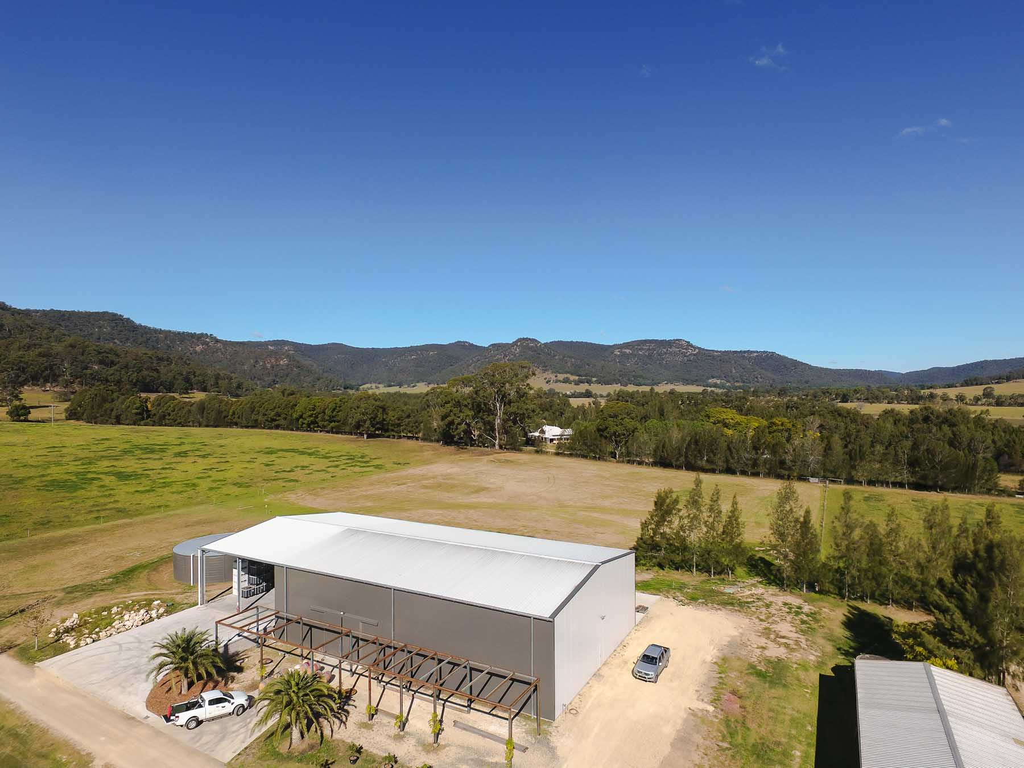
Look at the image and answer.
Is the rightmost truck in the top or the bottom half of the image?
bottom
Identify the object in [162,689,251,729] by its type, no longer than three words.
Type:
truck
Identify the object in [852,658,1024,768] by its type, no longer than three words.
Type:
shed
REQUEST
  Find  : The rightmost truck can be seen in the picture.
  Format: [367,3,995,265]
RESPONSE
[633,645,670,683]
